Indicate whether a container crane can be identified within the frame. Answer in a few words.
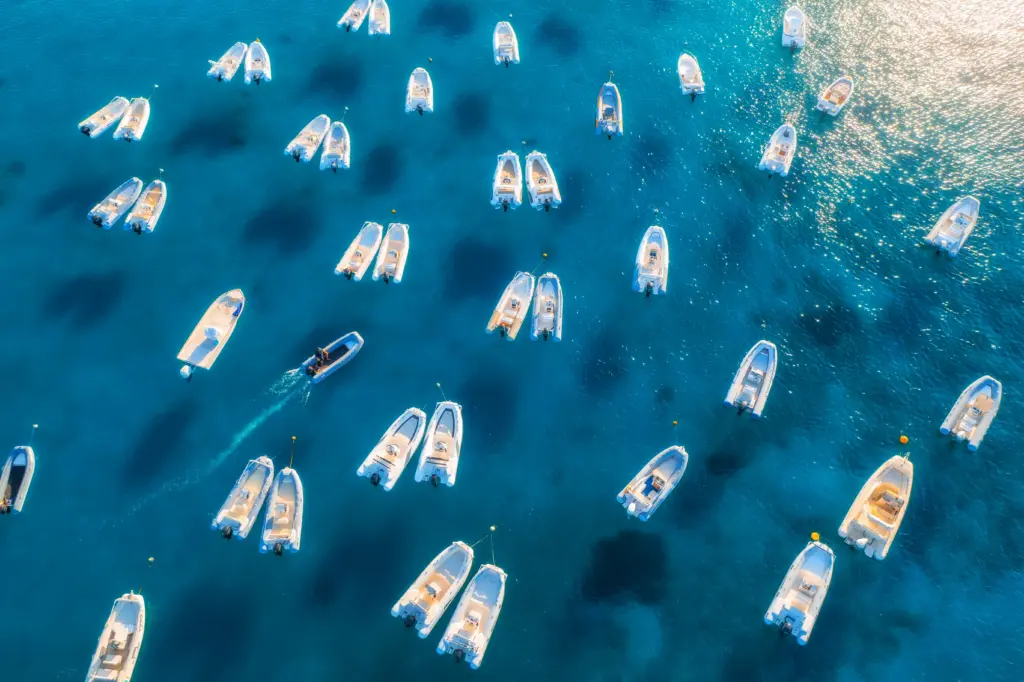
No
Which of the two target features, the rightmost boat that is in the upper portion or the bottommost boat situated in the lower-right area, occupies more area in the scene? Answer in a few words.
the bottommost boat situated in the lower-right area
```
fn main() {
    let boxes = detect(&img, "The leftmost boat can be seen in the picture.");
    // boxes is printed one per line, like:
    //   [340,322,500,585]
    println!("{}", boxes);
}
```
[0,445,34,513]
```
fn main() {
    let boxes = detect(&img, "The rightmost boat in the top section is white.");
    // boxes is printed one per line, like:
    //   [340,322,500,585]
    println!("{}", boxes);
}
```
[925,199,980,258]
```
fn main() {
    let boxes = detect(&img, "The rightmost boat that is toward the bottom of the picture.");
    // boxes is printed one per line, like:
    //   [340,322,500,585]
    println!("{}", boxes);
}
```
[940,374,998,452]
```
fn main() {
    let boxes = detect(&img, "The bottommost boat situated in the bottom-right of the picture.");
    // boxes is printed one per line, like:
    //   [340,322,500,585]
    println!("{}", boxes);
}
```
[765,540,831,646]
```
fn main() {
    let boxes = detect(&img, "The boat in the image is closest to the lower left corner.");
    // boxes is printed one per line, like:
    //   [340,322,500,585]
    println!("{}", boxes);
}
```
[85,589,145,682]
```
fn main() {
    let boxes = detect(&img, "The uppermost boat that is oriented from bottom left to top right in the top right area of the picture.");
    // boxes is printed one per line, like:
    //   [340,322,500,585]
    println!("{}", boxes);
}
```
[817,76,854,118]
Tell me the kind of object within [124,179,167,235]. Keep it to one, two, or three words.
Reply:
boat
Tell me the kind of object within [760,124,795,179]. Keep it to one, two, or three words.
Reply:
boat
